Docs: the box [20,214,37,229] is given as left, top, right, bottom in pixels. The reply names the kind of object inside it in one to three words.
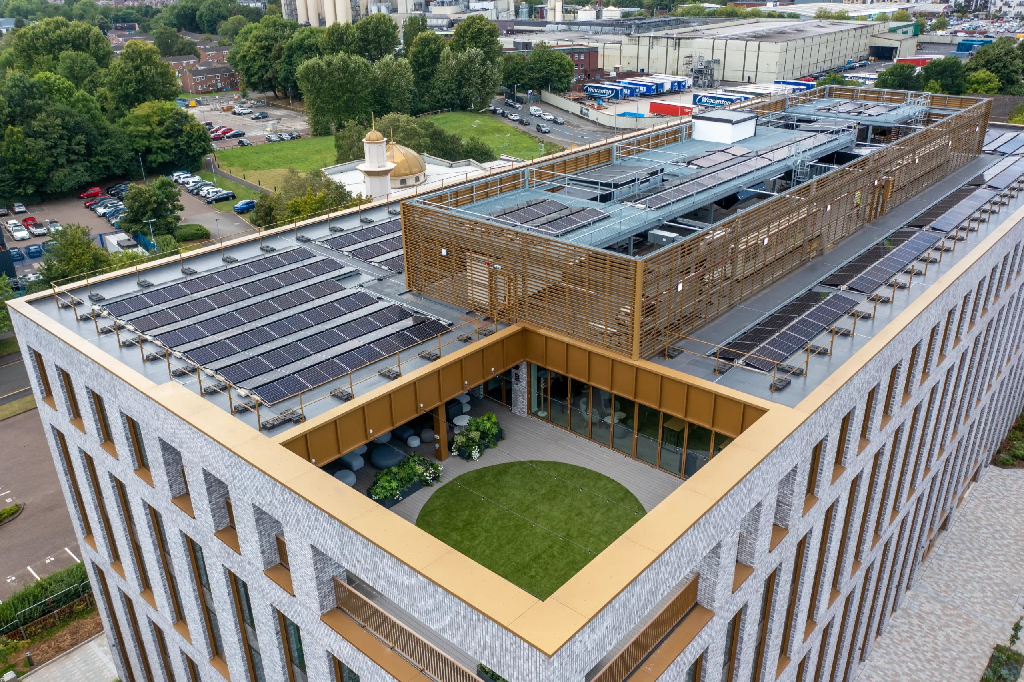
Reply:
car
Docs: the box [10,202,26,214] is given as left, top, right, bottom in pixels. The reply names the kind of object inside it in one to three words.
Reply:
vehicle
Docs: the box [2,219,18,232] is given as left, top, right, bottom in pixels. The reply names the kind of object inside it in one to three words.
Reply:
vehicle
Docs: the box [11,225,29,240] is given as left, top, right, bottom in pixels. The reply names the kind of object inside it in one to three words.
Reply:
car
